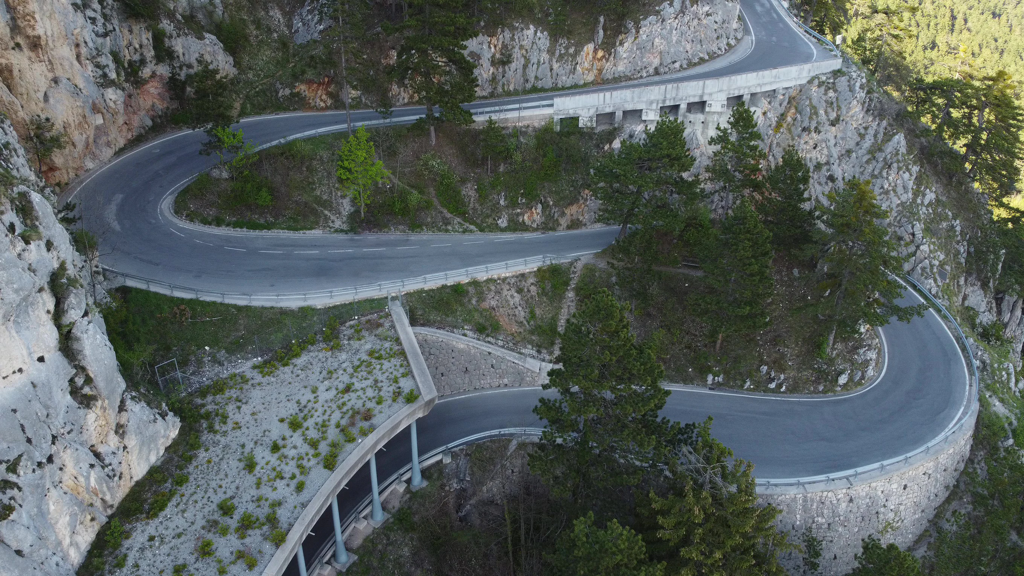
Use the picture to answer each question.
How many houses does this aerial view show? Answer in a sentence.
No houses are visible.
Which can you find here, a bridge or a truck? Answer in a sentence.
Visible in the photo is a bridge.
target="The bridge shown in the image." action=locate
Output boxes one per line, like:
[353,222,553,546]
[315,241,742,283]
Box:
[555,57,842,147]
